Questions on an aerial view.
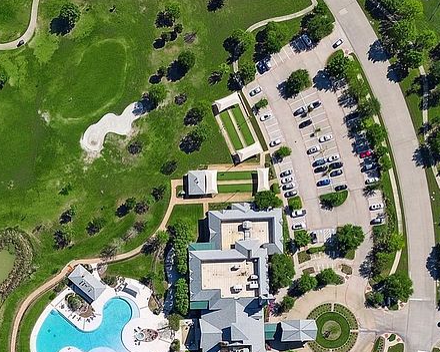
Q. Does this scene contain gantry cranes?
No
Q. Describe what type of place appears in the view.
golf course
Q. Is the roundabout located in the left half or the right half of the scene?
right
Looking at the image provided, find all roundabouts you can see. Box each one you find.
[306,302,358,352]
